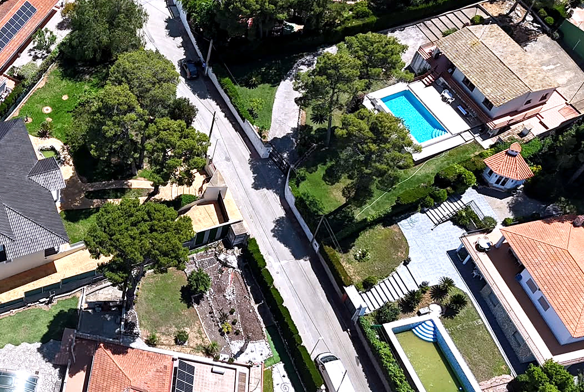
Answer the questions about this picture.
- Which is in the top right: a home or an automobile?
home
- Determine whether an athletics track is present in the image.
No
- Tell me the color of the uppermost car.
black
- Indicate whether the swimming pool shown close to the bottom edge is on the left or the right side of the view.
right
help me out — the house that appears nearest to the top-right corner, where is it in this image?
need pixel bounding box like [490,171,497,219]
[420,24,568,129]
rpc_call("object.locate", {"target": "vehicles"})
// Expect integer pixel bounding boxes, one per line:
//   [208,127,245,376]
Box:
[312,348,366,392]
[178,57,202,83]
